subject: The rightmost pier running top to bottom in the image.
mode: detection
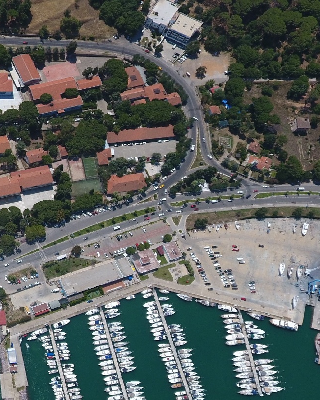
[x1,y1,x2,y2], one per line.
[237,310,263,396]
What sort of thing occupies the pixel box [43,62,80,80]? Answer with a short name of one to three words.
basketball court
